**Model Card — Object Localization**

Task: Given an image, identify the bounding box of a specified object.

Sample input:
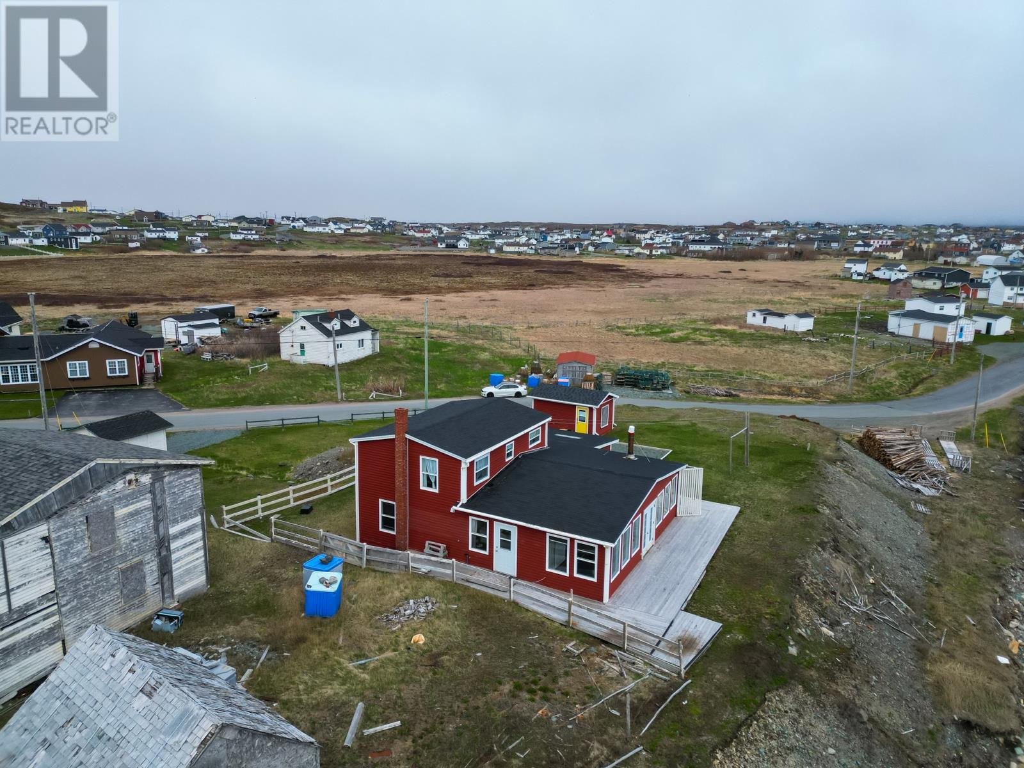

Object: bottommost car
[482,379,529,396]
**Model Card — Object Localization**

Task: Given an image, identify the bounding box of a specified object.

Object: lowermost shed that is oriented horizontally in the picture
[0,617,324,768]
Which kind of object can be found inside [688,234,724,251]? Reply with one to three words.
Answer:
building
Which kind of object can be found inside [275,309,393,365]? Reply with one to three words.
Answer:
house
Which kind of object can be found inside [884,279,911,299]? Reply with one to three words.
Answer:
shed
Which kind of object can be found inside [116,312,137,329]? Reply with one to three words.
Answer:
work vehicle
